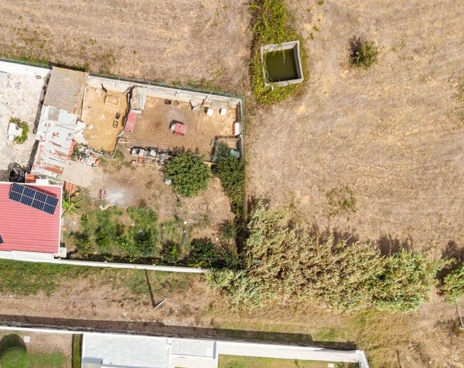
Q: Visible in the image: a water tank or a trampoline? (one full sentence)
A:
This aerial view contains a water tank.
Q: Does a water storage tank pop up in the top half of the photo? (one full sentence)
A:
Yes, you'll find a water storage tank in the top half of the photo.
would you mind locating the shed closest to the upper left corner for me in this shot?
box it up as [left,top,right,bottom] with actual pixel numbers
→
[44,67,87,114]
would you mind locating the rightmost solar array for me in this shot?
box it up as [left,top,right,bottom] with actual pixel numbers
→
[9,183,58,214]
